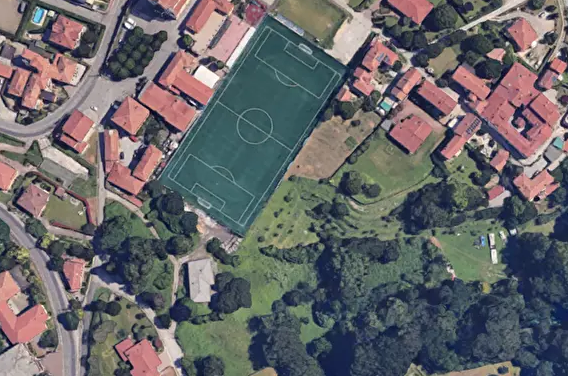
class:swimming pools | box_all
[31,8,46,25]
[380,99,393,112]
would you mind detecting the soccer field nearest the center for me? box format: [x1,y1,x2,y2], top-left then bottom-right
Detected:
[161,19,349,233]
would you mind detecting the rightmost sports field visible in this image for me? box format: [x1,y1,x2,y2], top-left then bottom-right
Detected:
[276,0,352,48]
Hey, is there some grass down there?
Yes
